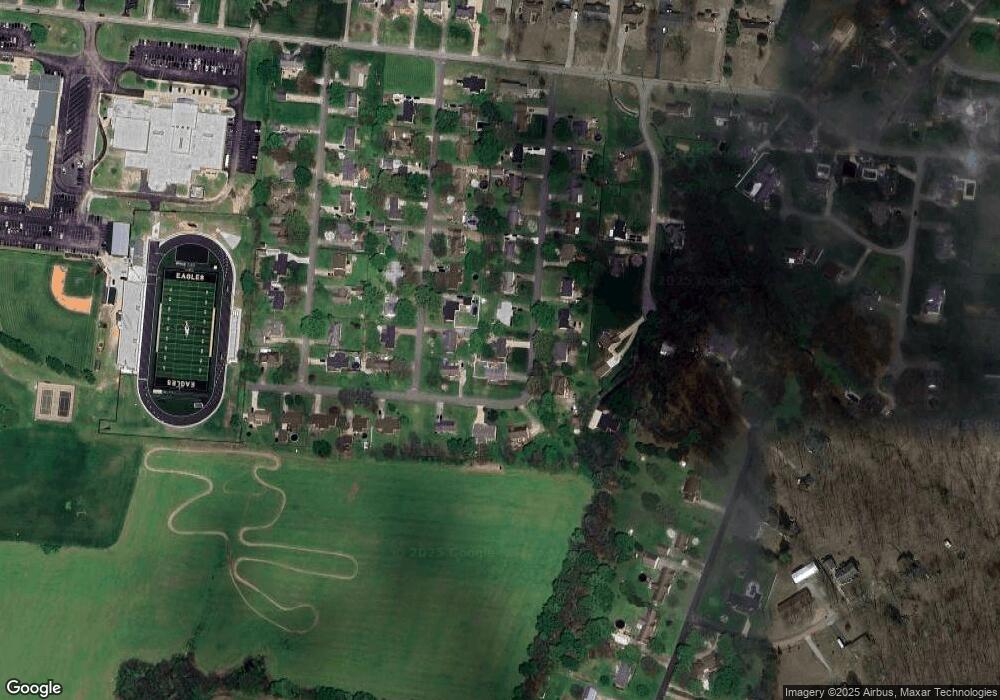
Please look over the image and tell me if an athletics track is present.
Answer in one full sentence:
Yes, looking at the shot, I can spot an athletics track.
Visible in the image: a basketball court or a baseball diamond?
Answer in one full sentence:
The image shows a baseball diamond.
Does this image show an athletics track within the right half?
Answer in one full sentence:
No, there is no athletics track within the right half.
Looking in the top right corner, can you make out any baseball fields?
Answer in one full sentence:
No, no baseball field is visible in the top right corner.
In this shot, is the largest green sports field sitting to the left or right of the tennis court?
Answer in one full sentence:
The tennis court has the largest green sports field on its right side.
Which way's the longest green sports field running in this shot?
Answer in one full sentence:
Seen from above, the longest green sports field lies from top to bottom.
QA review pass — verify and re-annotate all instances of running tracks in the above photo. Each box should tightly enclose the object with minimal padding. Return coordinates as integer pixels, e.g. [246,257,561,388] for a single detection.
[137,232,235,429]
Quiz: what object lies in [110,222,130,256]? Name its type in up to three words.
building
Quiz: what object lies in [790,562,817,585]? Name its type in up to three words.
barn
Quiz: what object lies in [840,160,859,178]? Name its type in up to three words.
house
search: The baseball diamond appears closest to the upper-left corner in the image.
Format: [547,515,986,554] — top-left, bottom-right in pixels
[52,265,92,313]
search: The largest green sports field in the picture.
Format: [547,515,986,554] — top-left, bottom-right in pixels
[154,268,219,394]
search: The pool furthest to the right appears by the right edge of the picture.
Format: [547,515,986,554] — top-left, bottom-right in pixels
[963,180,976,198]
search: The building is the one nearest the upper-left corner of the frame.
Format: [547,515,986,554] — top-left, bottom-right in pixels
[0,74,62,206]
